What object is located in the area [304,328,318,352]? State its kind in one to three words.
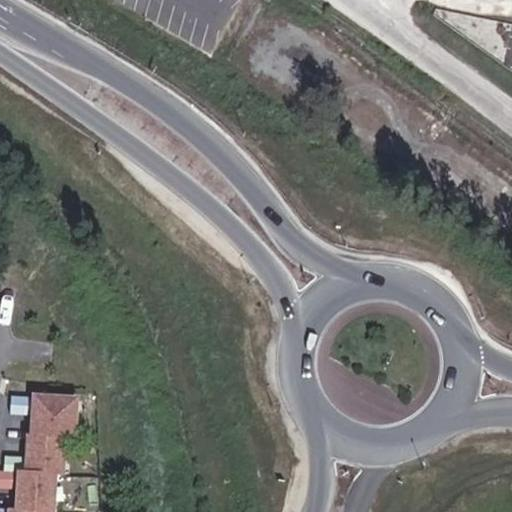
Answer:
vehicle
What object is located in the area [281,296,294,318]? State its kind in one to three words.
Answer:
vehicle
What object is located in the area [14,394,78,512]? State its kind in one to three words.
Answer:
house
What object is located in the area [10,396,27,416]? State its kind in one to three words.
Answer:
shed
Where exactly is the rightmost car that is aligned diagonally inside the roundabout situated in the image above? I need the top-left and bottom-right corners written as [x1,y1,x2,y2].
[426,308,446,326]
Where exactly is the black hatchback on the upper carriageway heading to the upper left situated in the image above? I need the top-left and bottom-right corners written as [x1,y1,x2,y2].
[263,206,284,225]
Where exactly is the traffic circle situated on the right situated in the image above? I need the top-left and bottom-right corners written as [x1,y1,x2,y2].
[287,270,472,456]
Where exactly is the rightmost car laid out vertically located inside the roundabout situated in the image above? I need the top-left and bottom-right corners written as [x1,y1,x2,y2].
[444,366,456,390]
